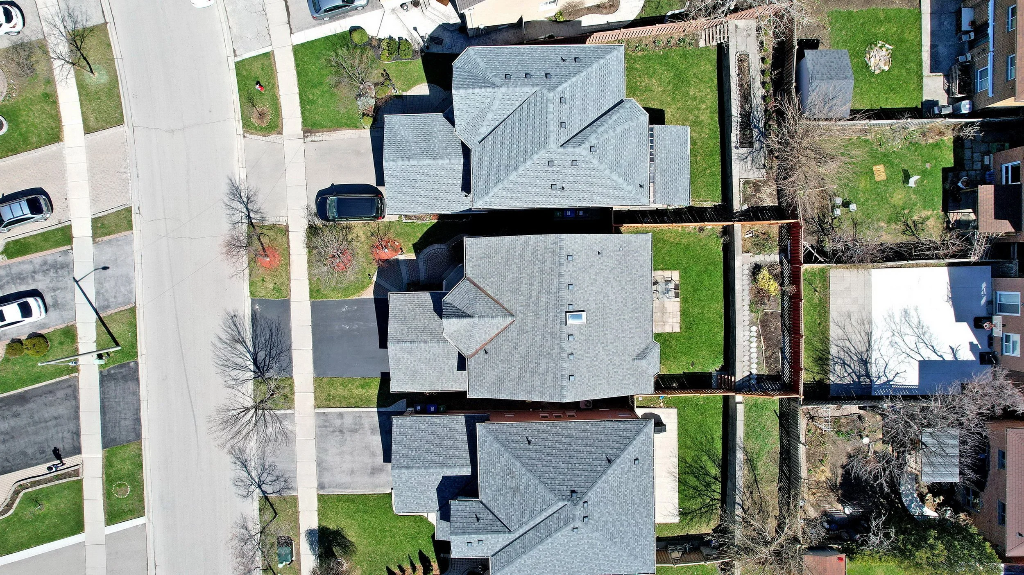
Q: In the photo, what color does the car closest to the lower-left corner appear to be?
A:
white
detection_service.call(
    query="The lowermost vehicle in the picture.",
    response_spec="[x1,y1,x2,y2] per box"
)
[0,292,47,328]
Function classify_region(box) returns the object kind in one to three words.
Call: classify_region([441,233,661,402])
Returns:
house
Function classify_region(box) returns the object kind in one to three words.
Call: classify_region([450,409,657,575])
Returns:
house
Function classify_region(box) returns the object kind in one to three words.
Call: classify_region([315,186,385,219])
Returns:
car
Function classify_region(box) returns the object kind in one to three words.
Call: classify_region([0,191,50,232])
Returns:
car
